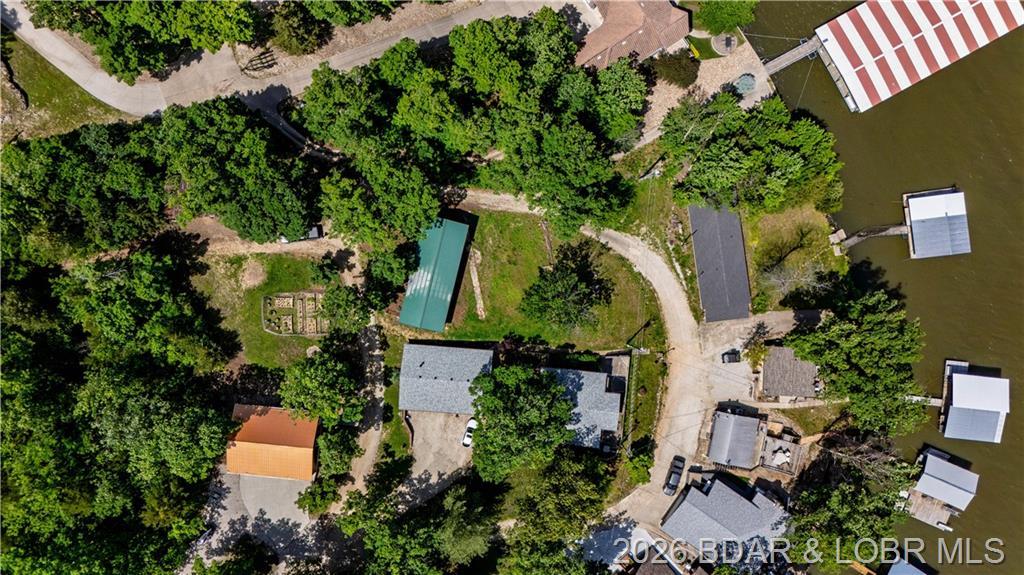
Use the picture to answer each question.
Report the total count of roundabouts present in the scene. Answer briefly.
0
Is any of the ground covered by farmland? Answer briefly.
No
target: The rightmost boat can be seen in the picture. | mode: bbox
[944,506,963,518]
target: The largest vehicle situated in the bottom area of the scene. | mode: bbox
[664,455,688,497]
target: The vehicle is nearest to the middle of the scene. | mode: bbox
[460,418,477,450]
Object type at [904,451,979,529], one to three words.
pier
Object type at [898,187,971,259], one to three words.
pier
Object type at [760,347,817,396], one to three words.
house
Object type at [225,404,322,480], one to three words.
barn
